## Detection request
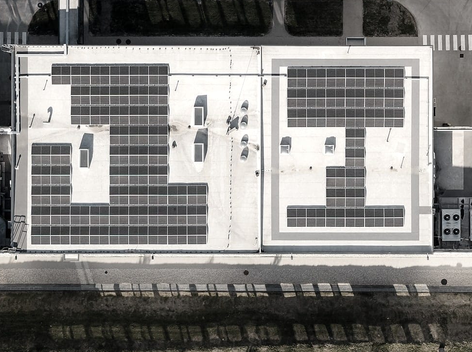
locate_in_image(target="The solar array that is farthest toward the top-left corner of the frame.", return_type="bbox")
[32,66,207,246]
